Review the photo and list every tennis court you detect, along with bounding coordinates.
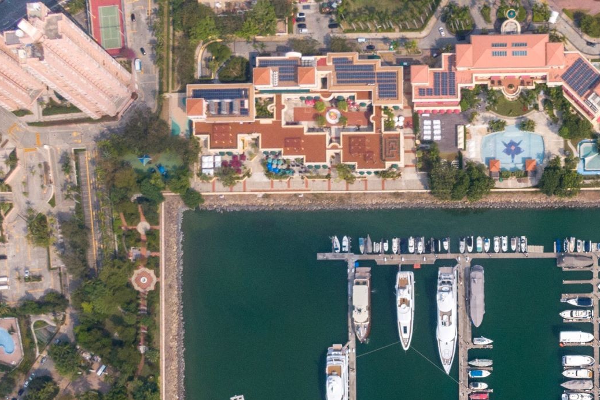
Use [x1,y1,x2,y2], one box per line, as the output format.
[90,0,134,58]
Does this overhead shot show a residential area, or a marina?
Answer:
marina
